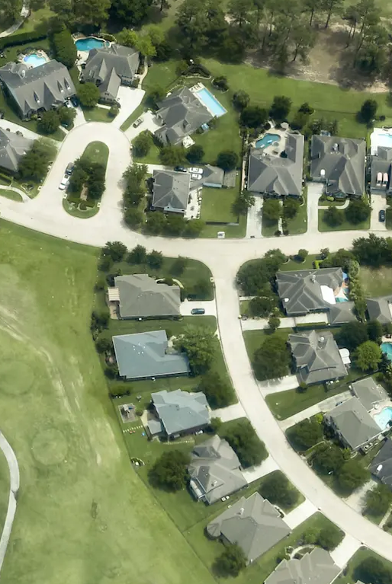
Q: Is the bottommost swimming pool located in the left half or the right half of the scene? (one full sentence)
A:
The bottommost swimming pool is on the right side of the image.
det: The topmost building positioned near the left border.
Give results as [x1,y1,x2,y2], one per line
[0,58,75,114]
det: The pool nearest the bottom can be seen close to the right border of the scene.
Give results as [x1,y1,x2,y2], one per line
[368,403,392,431]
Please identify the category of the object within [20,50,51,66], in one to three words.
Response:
swimming pool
